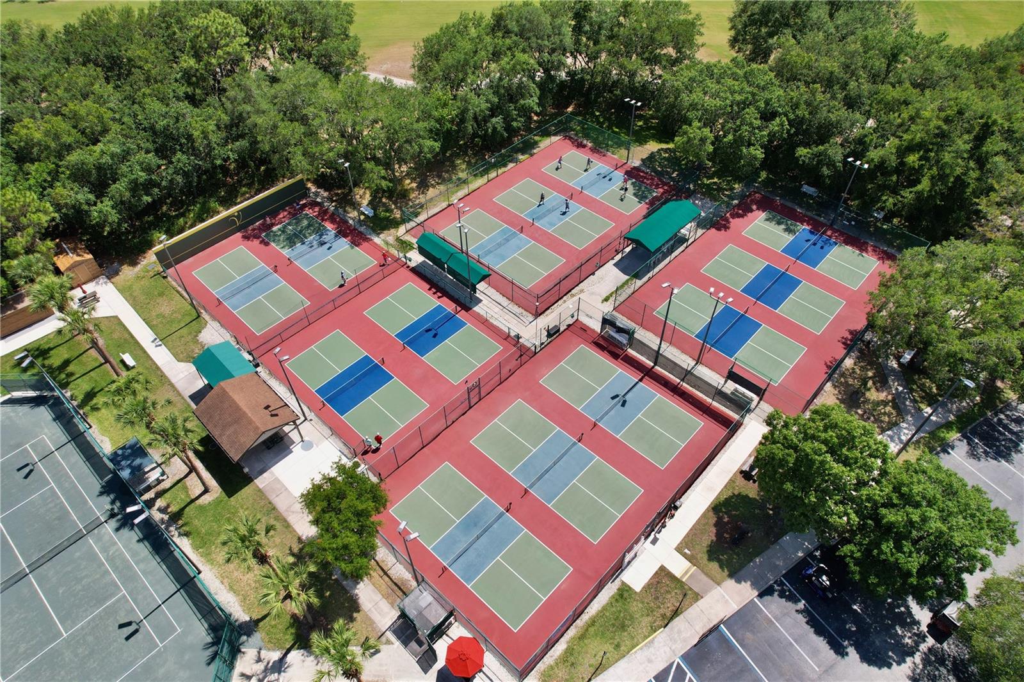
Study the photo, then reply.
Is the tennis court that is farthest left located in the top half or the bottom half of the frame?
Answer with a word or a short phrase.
bottom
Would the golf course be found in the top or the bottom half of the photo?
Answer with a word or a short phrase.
top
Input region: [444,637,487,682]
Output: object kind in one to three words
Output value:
umbrella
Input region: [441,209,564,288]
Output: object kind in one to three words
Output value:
sports court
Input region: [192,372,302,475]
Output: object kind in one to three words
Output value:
building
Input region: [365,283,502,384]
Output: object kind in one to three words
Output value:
sports court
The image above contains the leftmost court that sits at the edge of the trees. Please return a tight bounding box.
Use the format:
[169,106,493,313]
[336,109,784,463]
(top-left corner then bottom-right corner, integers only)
[0,391,248,682]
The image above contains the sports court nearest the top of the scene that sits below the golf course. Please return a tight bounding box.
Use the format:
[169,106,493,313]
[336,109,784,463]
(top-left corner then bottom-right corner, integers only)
[543,151,658,213]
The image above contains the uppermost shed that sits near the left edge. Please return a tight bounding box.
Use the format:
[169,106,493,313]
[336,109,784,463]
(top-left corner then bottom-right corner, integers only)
[48,242,102,286]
